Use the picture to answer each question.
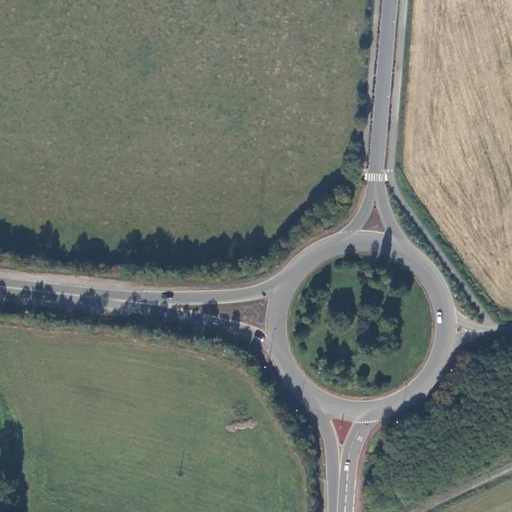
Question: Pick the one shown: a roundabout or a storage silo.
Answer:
roundabout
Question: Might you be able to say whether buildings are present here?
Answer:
No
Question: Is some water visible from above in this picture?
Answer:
No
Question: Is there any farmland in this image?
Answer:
Yes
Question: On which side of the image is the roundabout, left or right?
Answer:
right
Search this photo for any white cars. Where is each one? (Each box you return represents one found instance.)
[344,460,350,472]
[436,312,442,324]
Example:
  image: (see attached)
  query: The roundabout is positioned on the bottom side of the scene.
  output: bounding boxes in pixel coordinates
[266,230,456,422]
